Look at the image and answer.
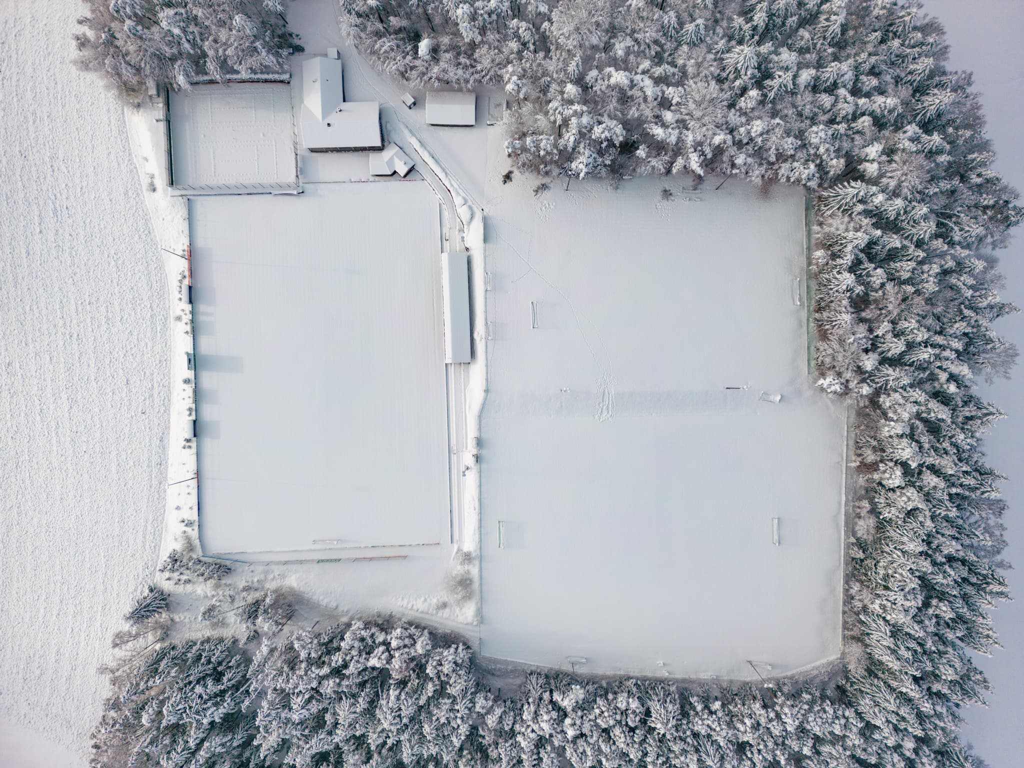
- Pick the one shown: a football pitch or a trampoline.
football pitch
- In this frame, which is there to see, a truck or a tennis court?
tennis court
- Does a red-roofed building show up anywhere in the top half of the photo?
No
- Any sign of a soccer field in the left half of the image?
Yes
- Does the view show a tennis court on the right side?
No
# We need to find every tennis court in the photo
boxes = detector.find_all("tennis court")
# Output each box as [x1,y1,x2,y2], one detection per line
[171,83,300,190]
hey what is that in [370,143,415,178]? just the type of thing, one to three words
house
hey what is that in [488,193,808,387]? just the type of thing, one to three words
sports field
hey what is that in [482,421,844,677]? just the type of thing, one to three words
sports field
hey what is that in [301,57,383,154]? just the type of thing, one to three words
building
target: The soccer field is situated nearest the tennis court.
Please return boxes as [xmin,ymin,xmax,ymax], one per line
[191,183,451,554]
